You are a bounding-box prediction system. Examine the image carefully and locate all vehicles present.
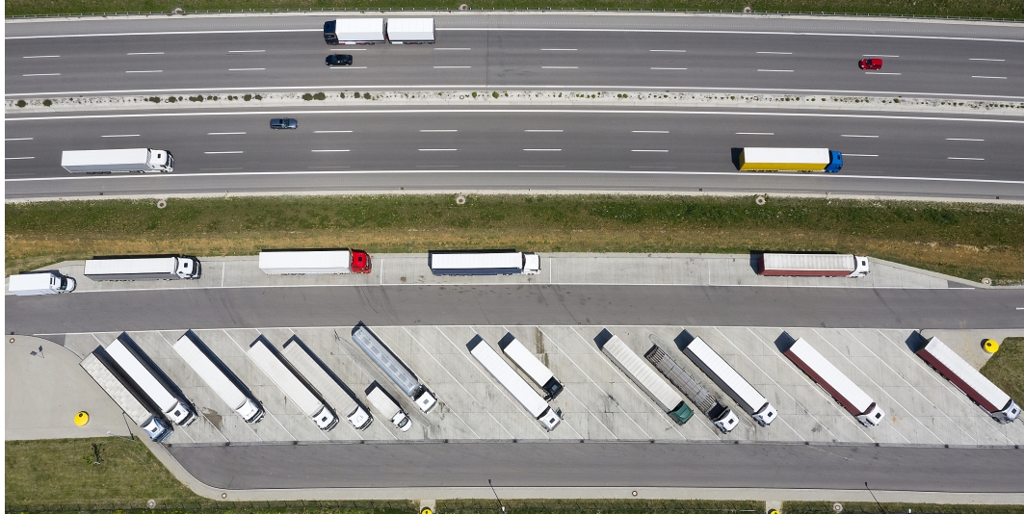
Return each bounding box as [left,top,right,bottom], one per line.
[9,274,76,295]
[366,386,413,432]
[433,252,540,275]
[322,17,435,44]
[85,257,202,281]
[916,336,1020,425]
[282,341,374,433]
[602,335,695,427]
[857,57,883,71]
[325,53,354,67]
[738,147,844,172]
[173,335,266,425]
[647,348,740,435]
[61,148,174,174]
[269,117,300,131]
[259,251,372,274]
[80,352,172,442]
[683,336,777,427]
[248,341,341,432]
[504,338,565,403]
[354,329,436,411]
[759,253,869,276]
[784,338,883,427]
[106,339,198,429]
[471,340,561,433]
